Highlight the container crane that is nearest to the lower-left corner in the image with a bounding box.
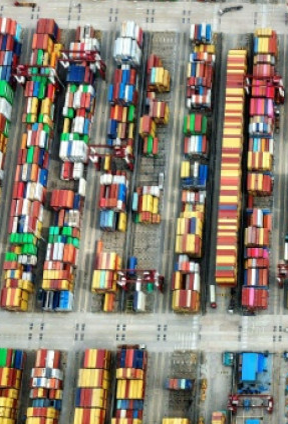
[117,269,164,291]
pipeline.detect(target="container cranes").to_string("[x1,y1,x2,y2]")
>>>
[57,50,106,77]
[14,64,64,92]
[231,392,272,413]
[117,269,164,291]
[249,76,285,103]
[88,145,135,170]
